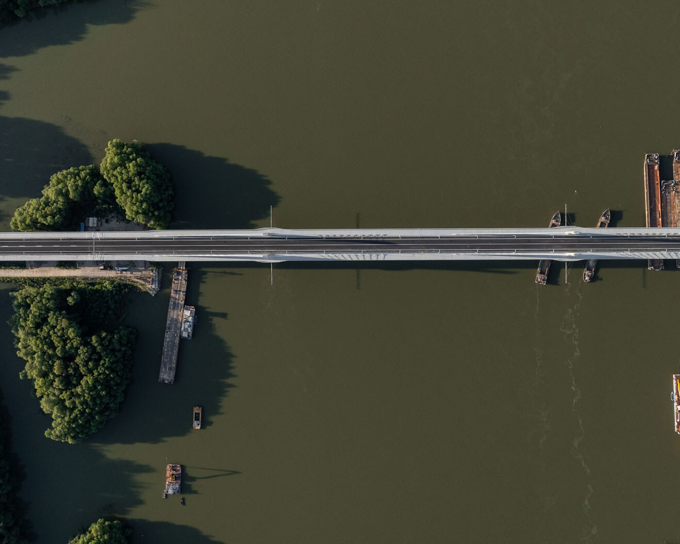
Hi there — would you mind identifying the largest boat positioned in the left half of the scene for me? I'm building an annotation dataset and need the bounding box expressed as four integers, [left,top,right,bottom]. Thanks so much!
[181,304,196,339]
